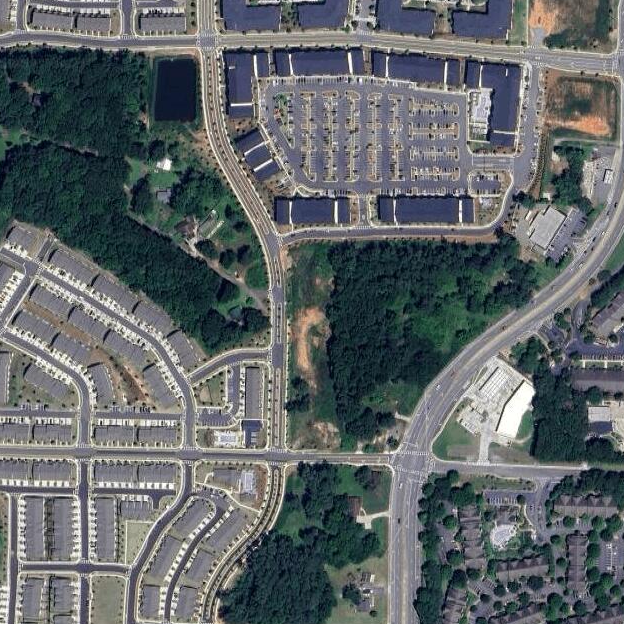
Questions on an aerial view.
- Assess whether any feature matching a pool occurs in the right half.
Yes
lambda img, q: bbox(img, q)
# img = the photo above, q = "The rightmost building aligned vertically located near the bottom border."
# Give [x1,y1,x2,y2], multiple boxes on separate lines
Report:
[566,533,590,594]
